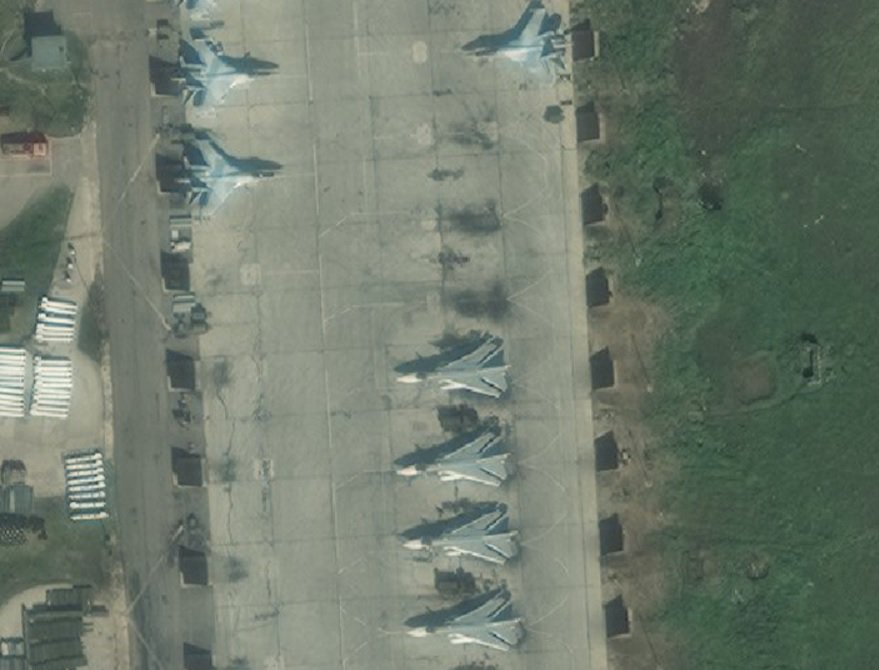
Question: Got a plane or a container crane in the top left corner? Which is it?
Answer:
plane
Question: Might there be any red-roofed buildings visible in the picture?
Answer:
No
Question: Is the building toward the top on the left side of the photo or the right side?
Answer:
left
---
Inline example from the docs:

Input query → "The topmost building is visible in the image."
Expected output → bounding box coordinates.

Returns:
[31,36,66,73]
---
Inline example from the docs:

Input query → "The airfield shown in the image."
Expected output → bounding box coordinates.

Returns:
[90,0,606,670]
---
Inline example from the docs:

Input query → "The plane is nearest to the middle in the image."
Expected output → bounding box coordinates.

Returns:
[396,342,512,395]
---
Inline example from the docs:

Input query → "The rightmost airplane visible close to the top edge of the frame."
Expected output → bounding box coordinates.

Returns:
[464,8,573,85]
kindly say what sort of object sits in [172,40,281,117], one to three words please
airplane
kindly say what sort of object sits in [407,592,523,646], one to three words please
airplane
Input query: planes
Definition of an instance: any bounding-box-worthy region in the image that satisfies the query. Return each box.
[403,506,518,560]
[407,592,523,646]
[176,141,284,218]
[394,432,512,485]
[464,8,573,85]
[172,40,281,117]
[396,342,512,395]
